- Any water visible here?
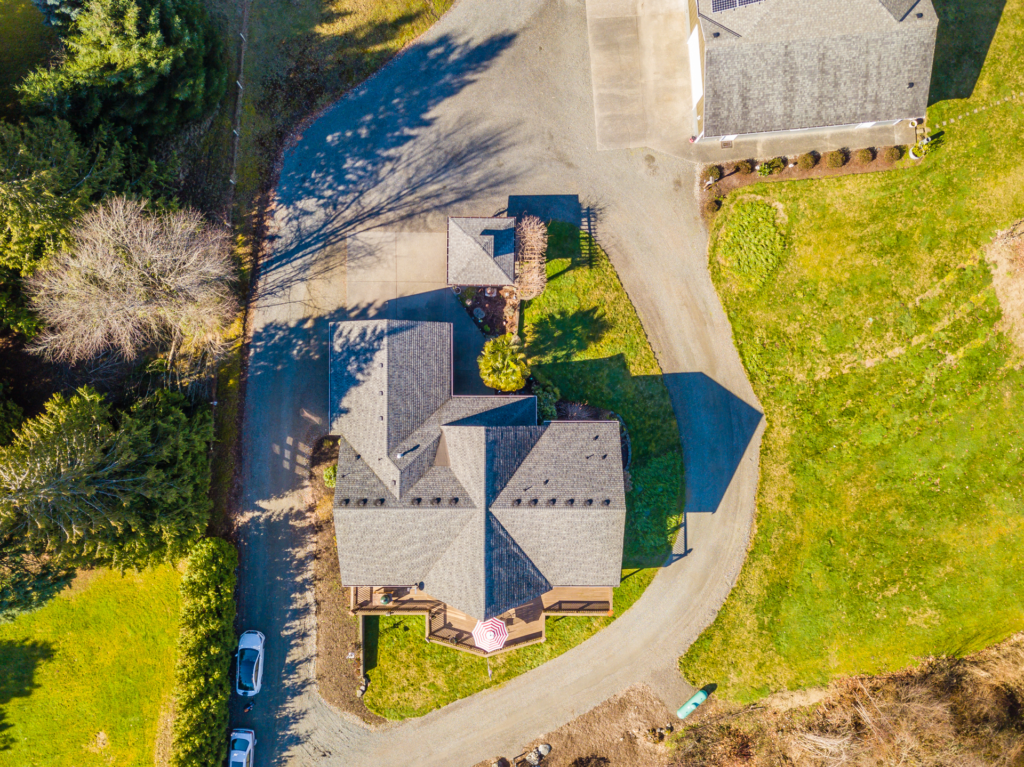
No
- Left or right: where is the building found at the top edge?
right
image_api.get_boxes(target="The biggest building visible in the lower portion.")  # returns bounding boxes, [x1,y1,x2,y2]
[327,319,626,621]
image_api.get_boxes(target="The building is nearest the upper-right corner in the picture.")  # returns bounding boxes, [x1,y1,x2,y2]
[682,0,942,144]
